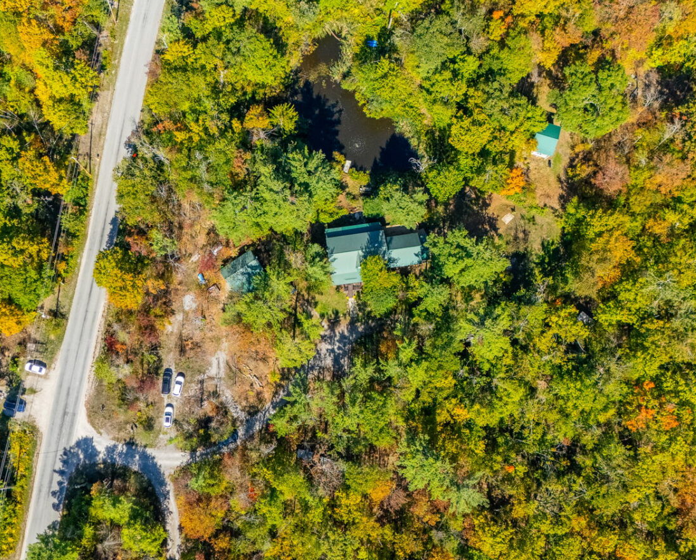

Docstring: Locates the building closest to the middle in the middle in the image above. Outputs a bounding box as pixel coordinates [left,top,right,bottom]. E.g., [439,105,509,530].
[324,222,430,302]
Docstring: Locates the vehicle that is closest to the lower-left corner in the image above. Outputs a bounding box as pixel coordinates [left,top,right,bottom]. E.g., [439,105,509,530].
[1,400,29,413]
